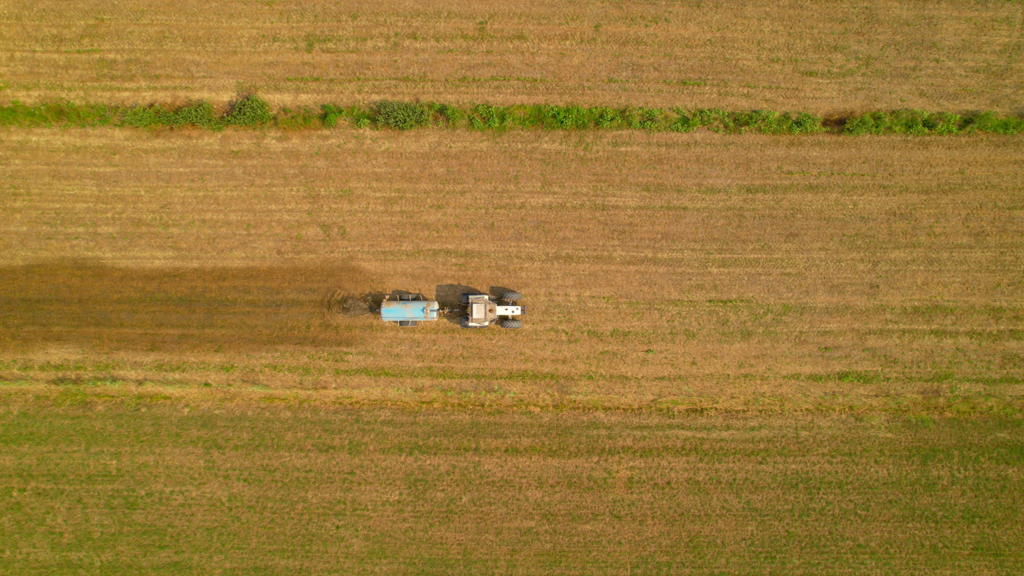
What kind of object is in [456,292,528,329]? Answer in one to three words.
work vehicle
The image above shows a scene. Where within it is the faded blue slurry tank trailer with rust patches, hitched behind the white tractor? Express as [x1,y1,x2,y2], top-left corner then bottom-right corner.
[373,294,465,327]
